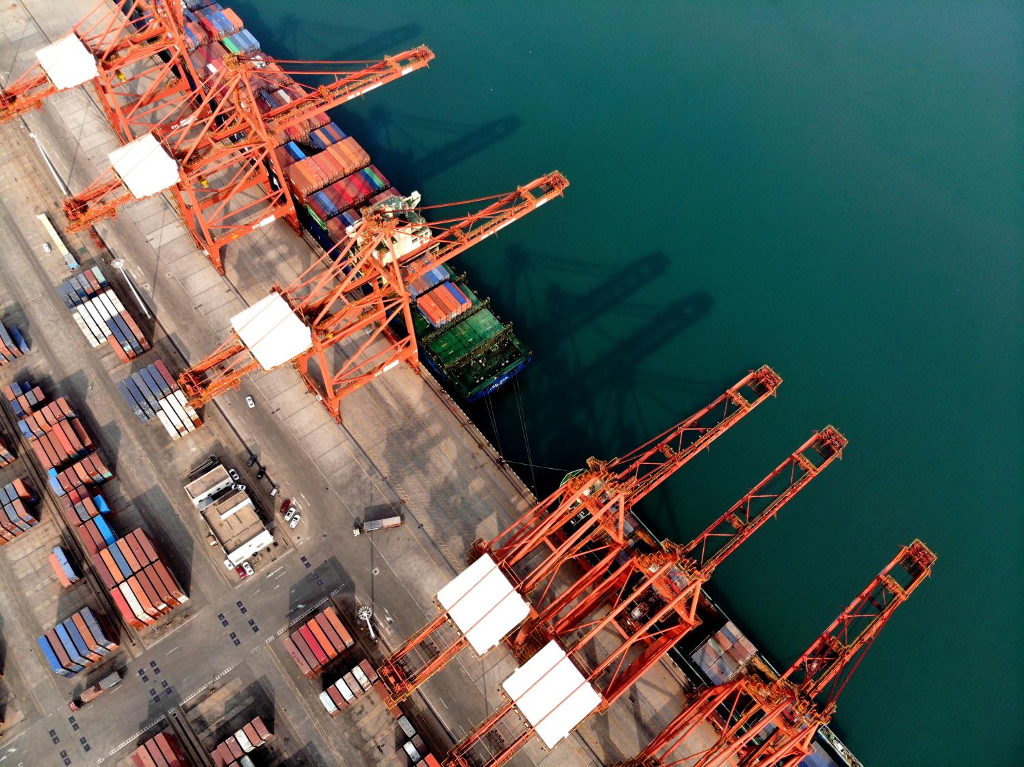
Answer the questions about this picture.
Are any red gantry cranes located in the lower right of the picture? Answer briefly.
Yes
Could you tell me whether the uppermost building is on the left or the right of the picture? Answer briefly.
left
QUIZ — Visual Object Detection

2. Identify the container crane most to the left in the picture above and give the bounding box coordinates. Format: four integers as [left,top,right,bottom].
[0,0,219,145]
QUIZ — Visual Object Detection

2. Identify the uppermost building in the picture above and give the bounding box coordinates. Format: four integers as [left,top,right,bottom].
[184,463,236,509]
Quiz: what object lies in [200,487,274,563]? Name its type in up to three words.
building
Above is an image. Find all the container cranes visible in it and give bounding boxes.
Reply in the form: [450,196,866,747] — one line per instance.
[366,358,790,715]
[432,420,857,767]
[171,166,576,421]
[50,39,437,267]
[0,0,219,145]
[628,535,950,767]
